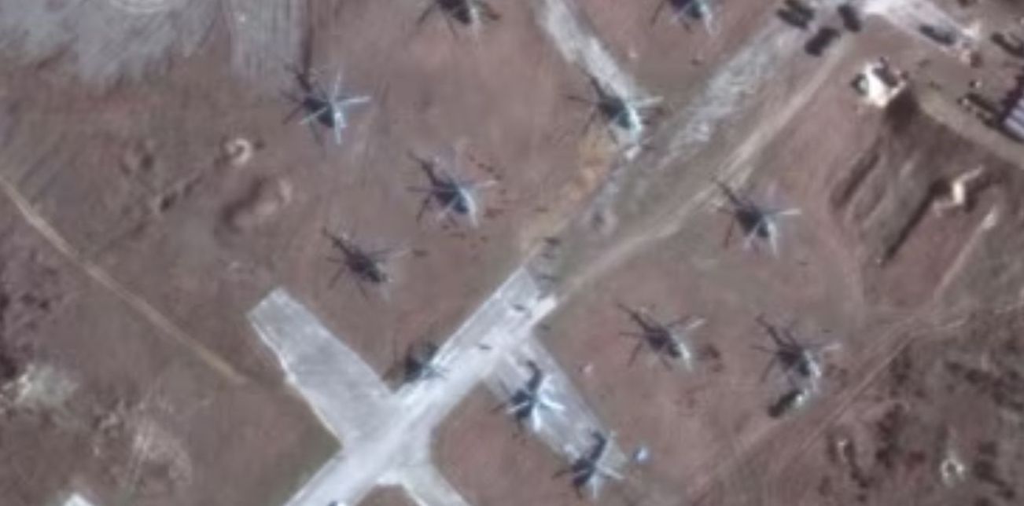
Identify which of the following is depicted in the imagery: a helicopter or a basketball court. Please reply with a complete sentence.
It is a helicopter that can be seen here.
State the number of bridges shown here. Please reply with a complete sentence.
I count no bridges.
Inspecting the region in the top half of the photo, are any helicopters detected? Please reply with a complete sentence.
Yes, in the top half of the photo there is a helicopter.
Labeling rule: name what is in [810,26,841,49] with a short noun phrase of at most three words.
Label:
truck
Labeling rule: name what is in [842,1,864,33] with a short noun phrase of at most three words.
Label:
truck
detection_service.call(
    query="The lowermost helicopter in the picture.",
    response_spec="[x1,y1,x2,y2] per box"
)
[568,429,623,495]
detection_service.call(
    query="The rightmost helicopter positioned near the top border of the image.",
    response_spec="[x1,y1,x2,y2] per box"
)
[672,0,712,26]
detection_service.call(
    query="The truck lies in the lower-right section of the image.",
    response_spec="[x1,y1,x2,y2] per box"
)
[771,391,805,415]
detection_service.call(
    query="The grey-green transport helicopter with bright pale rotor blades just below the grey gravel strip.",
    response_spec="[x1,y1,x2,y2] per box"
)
[303,62,369,138]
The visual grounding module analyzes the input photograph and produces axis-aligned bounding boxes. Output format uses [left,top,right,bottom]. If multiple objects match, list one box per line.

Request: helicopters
[401,335,457,398]
[672,0,712,26]
[436,0,476,31]
[729,179,798,248]
[303,62,369,138]
[633,296,702,363]
[771,312,839,382]
[508,364,564,430]
[338,222,407,291]
[425,153,495,221]
[568,429,623,495]
[593,65,663,137]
